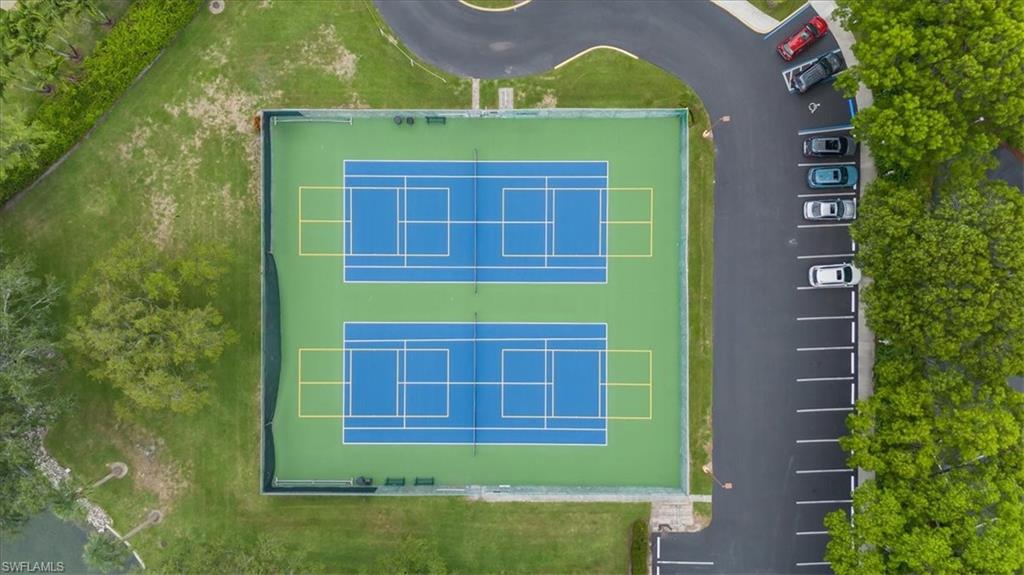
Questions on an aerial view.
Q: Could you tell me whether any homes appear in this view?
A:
No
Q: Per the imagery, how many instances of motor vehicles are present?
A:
six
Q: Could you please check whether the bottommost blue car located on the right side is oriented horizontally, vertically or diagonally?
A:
horizontally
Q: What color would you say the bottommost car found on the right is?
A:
white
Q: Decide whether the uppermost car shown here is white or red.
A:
red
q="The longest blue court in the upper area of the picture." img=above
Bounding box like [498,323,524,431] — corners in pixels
[343,160,609,284]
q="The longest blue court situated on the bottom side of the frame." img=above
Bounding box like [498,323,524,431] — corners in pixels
[342,322,608,445]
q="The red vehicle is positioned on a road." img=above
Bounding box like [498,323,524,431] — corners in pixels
[779,16,830,59]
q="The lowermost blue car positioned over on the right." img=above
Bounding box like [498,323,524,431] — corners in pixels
[809,163,861,188]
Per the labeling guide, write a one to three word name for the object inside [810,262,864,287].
car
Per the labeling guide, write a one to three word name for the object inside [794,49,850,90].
car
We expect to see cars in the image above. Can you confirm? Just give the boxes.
[810,262,864,287]
[805,196,859,220]
[794,49,850,90]
[779,16,830,59]
[809,163,861,188]
[805,132,859,157]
